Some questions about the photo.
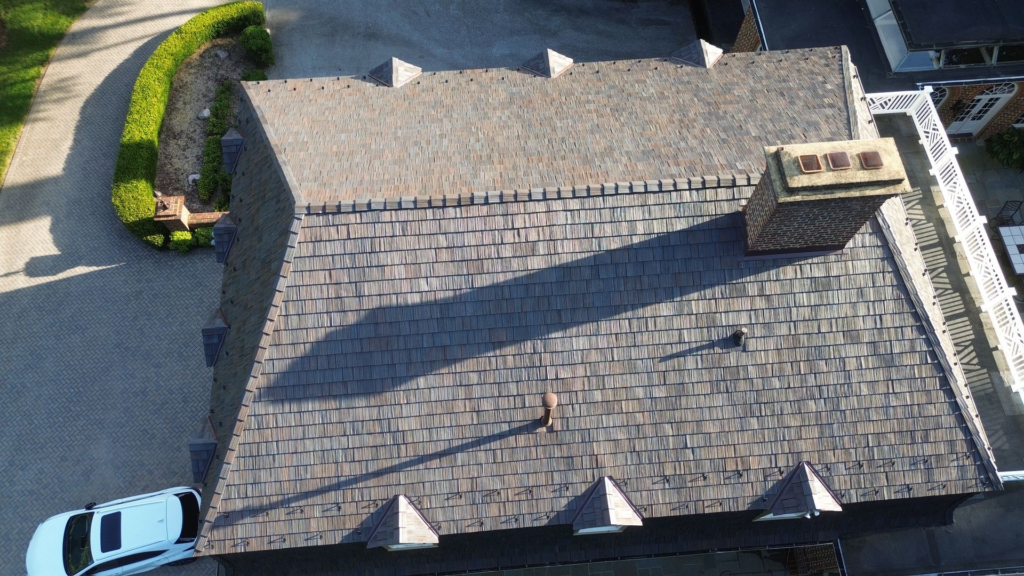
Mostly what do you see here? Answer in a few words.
buildings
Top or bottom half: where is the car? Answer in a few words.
bottom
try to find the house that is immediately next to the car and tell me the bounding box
[186,37,1006,576]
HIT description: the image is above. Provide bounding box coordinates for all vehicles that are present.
[25,486,210,576]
